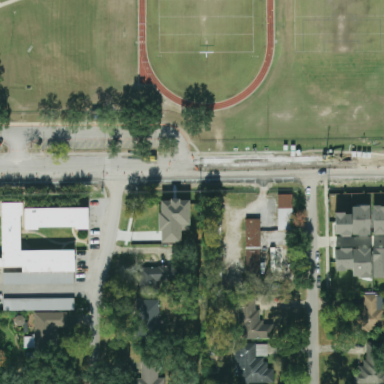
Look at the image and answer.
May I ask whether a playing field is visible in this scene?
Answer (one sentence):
Yes, the photo shows a playing field.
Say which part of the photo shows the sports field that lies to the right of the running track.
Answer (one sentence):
The sports field that lies to the right of the running track is in the top right part of the image.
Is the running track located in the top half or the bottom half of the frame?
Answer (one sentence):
You can find the running track in the top half.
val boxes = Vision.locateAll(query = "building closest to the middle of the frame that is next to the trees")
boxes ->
[160,198,190,243]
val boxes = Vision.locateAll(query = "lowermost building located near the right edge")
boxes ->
[357,338,384,384]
